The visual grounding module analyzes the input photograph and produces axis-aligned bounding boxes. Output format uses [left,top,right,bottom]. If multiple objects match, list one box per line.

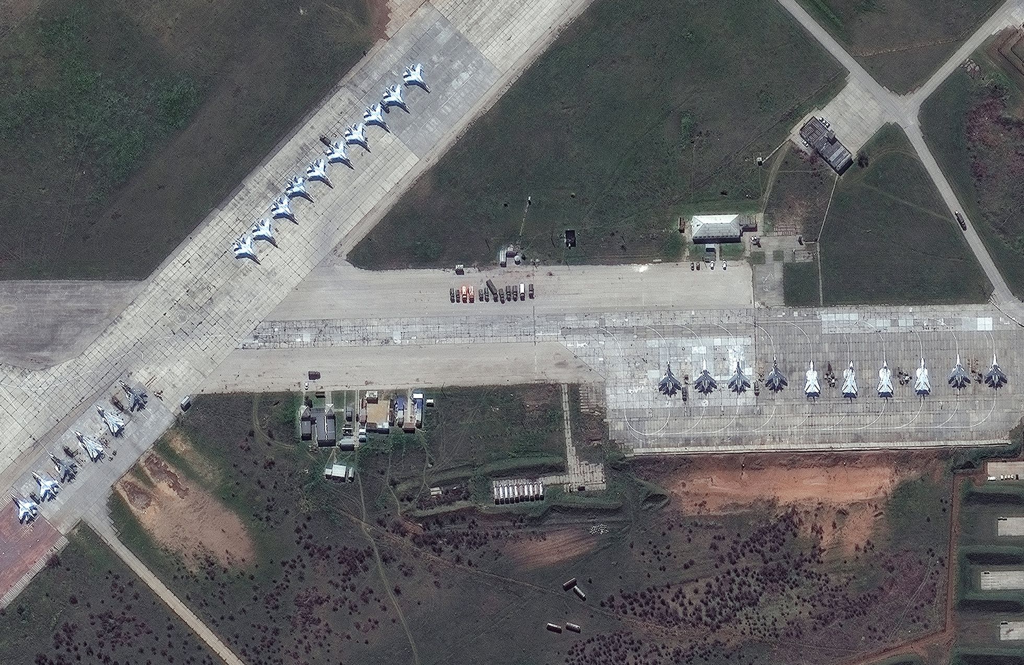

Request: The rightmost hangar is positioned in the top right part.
[800,117,852,171]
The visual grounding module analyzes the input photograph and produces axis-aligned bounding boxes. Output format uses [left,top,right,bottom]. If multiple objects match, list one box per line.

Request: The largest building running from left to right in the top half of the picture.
[693,216,741,238]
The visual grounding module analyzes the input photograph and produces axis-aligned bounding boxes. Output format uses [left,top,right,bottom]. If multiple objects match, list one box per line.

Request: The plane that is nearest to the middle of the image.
[657,360,682,396]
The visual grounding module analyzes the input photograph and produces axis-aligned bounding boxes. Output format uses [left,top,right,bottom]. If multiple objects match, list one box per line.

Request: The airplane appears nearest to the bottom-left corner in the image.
[12,496,41,527]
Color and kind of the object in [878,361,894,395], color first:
white airplane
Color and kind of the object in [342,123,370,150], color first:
white airplane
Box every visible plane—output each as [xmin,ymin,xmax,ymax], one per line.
[657,360,682,396]
[361,102,389,130]
[269,193,298,221]
[119,381,148,411]
[50,453,79,483]
[727,360,751,396]
[96,406,124,436]
[402,63,430,91]
[878,361,894,395]
[12,496,41,527]
[231,233,259,262]
[693,358,717,394]
[983,354,1007,390]
[342,123,370,150]
[33,473,61,502]
[842,361,858,395]
[947,355,971,390]
[764,355,788,391]
[304,158,332,186]
[249,216,277,244]
[804,360,821,395]
[285,173,314,201]
[382,83,410,111]
[76,432,103,462]
[915,358,932,392]
[324,137,353,165]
